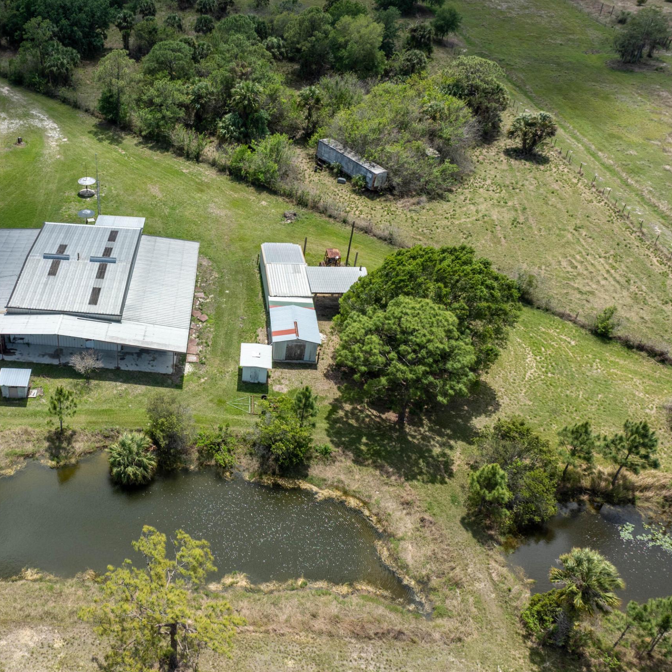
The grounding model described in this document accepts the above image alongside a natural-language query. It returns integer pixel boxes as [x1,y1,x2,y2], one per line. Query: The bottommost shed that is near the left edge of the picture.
[0,365,32,399]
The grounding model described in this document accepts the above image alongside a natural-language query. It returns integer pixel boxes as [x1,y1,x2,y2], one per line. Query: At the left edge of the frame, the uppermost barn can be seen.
[0,217,201,374]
